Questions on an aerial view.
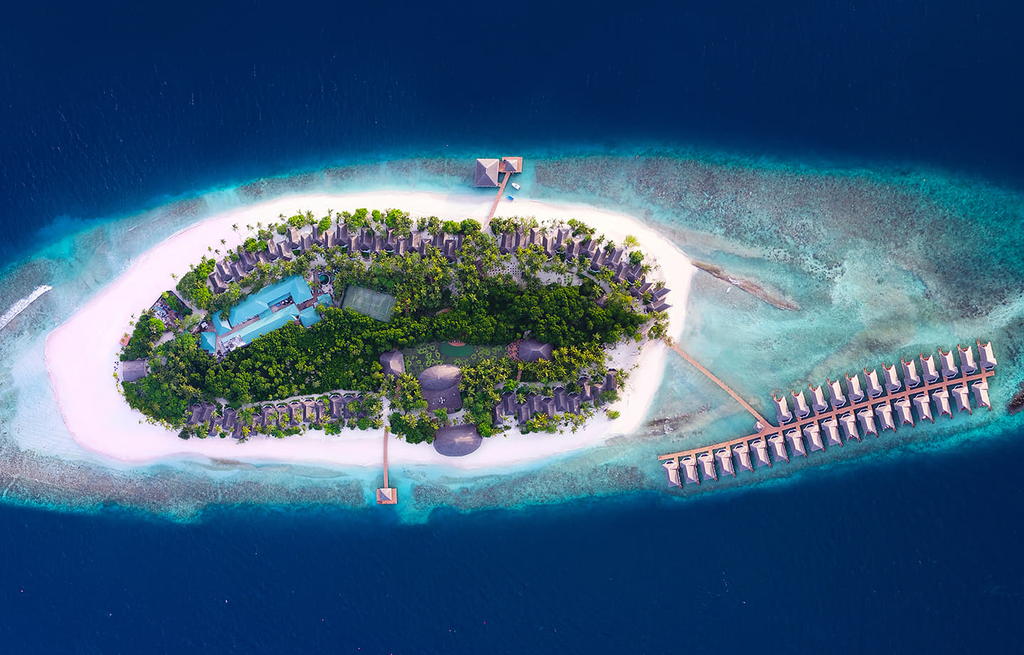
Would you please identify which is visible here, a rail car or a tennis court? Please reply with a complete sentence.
This aerial view contains a tennis court.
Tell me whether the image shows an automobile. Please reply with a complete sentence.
No, there isn't any automobile down there.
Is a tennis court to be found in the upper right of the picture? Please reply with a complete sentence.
No, there is no tennis court in the upper right of the picture.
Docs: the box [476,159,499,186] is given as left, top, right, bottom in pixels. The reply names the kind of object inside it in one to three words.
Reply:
building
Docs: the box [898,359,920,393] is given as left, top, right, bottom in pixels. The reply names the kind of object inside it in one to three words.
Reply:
house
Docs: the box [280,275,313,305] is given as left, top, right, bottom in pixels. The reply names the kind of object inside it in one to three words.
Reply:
building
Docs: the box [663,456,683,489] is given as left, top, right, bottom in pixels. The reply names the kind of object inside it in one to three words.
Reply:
house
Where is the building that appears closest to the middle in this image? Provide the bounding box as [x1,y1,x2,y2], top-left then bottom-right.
[517,339,554,362]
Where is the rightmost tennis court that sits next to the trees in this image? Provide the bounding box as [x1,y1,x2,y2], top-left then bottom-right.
[342,285,396,321]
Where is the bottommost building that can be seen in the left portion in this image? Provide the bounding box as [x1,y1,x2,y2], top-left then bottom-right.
[377,488,397,504]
